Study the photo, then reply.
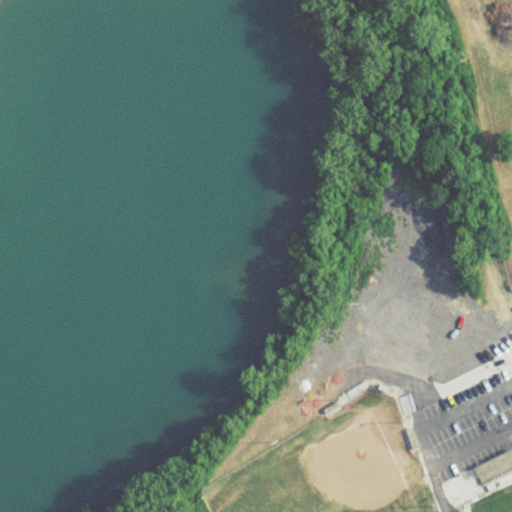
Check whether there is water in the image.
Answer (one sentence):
Yes, there's water in this view.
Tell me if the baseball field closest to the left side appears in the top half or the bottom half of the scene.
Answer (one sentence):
You can find the baseball field closest to the left side in the bottom half.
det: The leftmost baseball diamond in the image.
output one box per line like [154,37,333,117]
[204,391,437,512]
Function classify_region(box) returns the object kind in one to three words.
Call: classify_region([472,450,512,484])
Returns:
building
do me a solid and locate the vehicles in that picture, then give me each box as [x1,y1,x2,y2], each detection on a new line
[496,375,502,384]
[455,395,462,404]
[501,342,508,352]
[501,413,508,424]
[494,360,504,366]
[494,346,502,356]
[490,378,498,388]
[466,390,474,400]
[442,402,448,412]
[478,352,484,362]
[452,464,459,474]
[480,421,487,431]
[451,330,460,338]
[484,350,491,360]
[484,380,492,392]
[506,338,512,348]
[454,424,461,434]
[489,404,496,414]
[472,387,479,396]
[478,384,486,394]
[460,392,467,402]
[458,317,464,329]
[448,396,456,406]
